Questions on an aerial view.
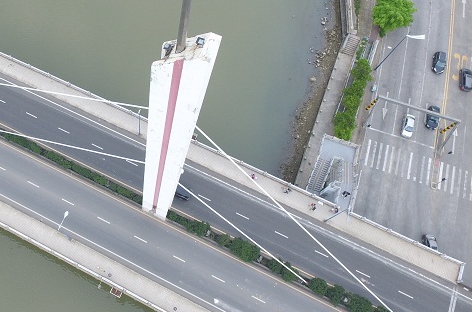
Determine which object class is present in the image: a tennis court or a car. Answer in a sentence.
The image shows a car.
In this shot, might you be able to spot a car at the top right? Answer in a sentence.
Yes, a car appears at the top right.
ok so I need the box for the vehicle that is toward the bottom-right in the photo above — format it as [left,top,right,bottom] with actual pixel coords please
[423,231,440,249]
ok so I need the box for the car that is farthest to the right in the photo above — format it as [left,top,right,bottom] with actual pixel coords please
[457,68,472,92]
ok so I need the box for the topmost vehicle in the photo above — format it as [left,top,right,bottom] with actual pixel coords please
[430,49,446,74]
